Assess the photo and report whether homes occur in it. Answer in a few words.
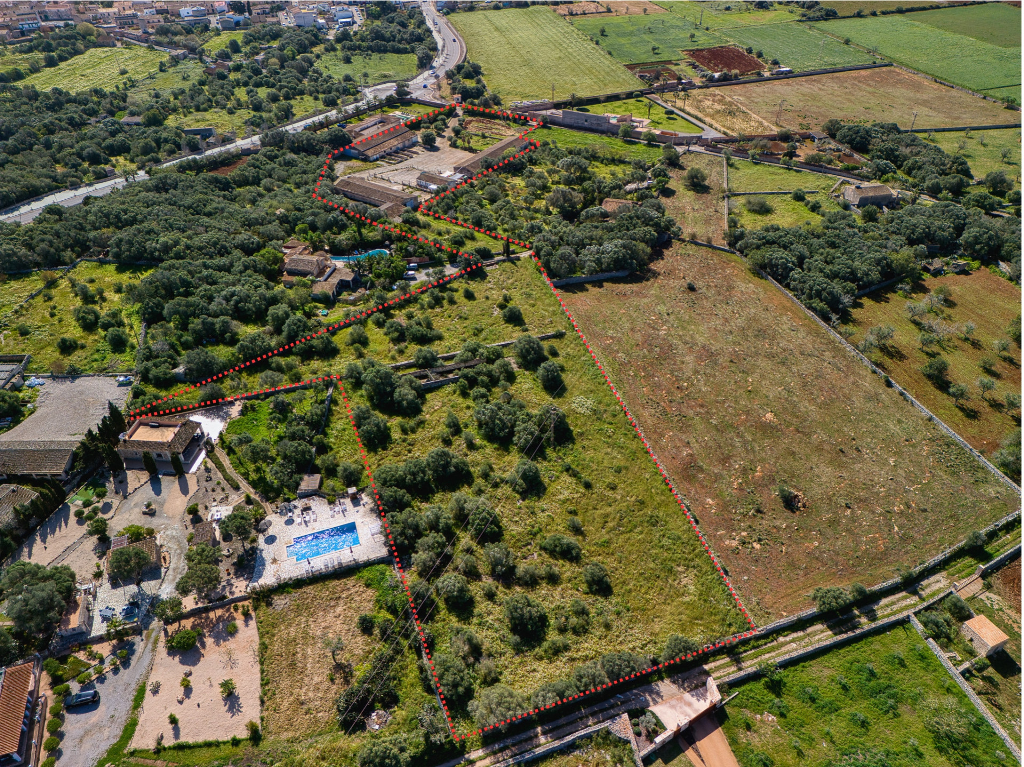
Yes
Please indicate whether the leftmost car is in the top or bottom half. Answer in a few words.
bottom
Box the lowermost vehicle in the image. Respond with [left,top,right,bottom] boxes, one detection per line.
[60,686,100,709]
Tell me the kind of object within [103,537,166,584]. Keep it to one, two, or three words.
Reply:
shed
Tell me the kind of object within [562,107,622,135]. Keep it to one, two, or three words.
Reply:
building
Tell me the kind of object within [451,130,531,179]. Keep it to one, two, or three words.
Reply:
barn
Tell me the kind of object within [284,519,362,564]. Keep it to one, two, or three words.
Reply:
swimming pool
